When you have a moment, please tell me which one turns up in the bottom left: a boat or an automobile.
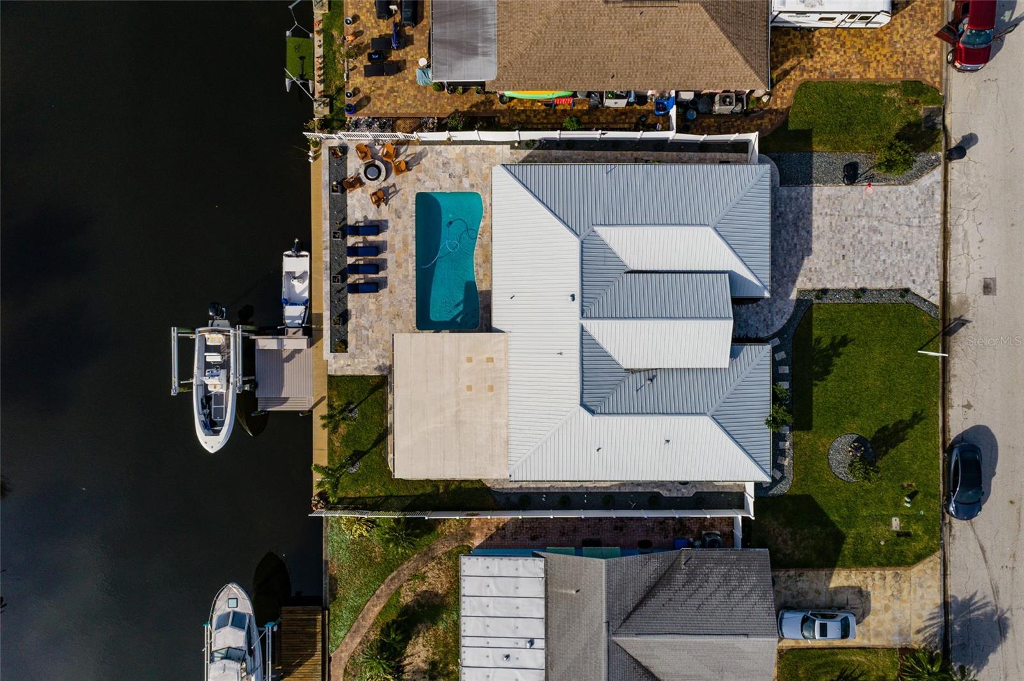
boat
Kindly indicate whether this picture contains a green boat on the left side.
Yes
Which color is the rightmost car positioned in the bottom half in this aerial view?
black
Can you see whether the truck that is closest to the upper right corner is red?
Yes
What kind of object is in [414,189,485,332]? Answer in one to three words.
swimming pool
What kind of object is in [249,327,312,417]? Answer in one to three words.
pier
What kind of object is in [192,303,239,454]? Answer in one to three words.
boat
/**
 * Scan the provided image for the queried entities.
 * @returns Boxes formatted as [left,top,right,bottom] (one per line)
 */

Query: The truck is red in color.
[936,0,1013,74]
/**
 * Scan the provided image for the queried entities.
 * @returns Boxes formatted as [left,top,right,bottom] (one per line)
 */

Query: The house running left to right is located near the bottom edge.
[459,543,778,681]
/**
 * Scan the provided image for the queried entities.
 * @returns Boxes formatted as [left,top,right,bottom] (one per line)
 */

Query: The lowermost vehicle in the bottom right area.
[776,605,856,643]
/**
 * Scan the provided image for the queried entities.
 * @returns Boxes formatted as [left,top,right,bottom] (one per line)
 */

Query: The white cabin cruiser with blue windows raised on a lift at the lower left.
[209,584,259,681]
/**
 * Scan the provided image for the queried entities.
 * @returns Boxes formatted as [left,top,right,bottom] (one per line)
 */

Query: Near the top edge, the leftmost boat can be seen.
[285,31,314,92]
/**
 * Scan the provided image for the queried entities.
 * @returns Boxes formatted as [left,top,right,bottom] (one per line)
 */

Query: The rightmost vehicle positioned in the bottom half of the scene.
[949,442,990,520]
